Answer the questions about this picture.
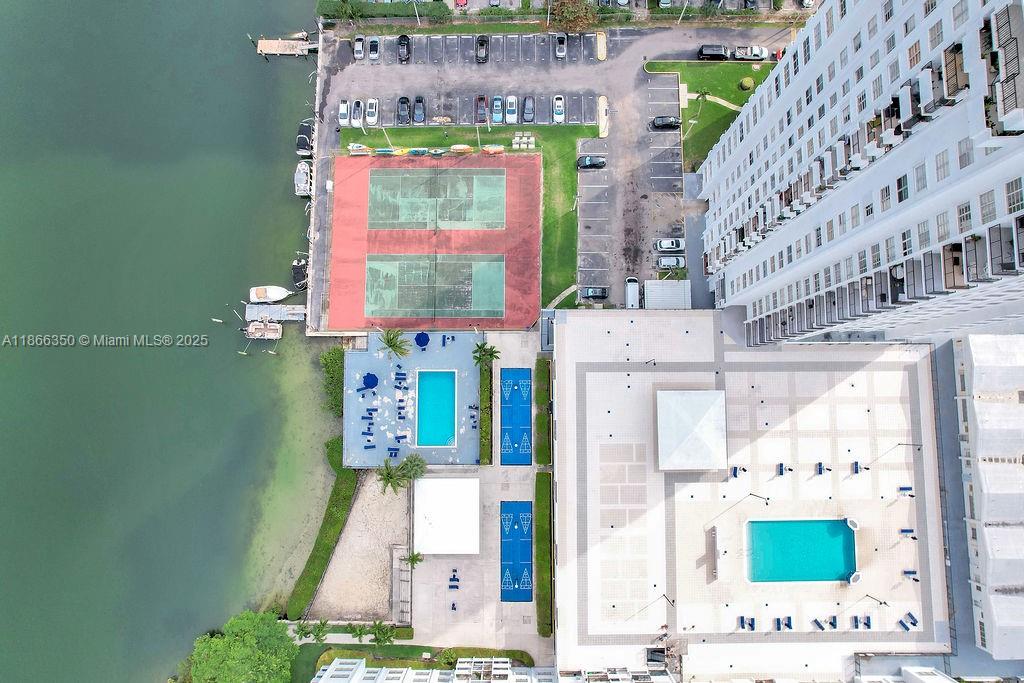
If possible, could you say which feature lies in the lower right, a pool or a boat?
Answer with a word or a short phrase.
pool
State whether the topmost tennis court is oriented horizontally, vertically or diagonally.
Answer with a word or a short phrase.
horizontally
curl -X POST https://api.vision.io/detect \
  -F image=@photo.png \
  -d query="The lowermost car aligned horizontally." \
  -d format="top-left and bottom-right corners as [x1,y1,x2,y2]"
[581,287,608,299]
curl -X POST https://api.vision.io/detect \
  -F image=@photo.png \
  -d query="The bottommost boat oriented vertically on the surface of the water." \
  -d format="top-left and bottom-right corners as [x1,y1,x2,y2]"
[292,259,306,288]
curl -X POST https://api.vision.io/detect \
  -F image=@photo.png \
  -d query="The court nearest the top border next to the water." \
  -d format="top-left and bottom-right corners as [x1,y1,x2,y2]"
[332,154,541,243]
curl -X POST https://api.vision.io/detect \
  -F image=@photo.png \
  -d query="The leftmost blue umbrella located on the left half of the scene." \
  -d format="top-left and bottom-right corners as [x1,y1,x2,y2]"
[363,373,379,389]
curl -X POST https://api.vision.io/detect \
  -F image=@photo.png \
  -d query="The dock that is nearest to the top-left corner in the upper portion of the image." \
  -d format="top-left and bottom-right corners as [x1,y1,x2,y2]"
[257,38,317,58]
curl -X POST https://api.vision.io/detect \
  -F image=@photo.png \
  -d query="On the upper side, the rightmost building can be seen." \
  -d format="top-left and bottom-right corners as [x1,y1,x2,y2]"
[699,0,1024,350]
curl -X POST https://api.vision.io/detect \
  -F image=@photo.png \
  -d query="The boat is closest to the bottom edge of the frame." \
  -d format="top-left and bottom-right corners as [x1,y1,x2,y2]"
[242,322,282,339]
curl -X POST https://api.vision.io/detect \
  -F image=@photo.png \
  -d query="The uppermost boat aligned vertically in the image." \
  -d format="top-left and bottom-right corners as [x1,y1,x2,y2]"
[296,123,311,156]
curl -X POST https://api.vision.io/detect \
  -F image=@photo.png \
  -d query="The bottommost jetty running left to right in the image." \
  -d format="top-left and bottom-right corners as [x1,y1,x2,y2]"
[245,303,307,322]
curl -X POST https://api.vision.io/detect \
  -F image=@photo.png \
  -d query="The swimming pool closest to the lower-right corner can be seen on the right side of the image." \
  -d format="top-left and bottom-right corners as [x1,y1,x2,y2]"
[744,517,861,585]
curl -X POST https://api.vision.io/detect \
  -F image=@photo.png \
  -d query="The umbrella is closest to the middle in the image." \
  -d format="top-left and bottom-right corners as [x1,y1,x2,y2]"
[414,332,430,347]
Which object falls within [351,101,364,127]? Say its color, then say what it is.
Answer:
white vehicle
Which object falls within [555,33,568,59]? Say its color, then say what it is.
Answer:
gray vehicle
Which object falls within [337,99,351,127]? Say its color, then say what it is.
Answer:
white car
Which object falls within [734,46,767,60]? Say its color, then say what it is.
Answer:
white vehicle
